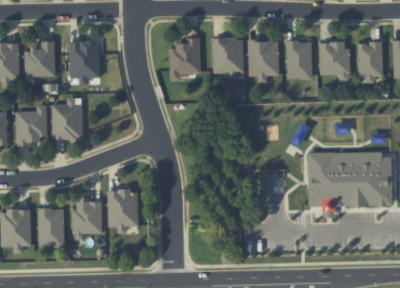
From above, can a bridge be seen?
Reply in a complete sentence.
No, no bridge can be seen from above.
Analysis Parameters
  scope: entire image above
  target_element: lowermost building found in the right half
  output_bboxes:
[308,152,392,218]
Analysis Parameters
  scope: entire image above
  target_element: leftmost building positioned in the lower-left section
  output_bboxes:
[0,210,30,254]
